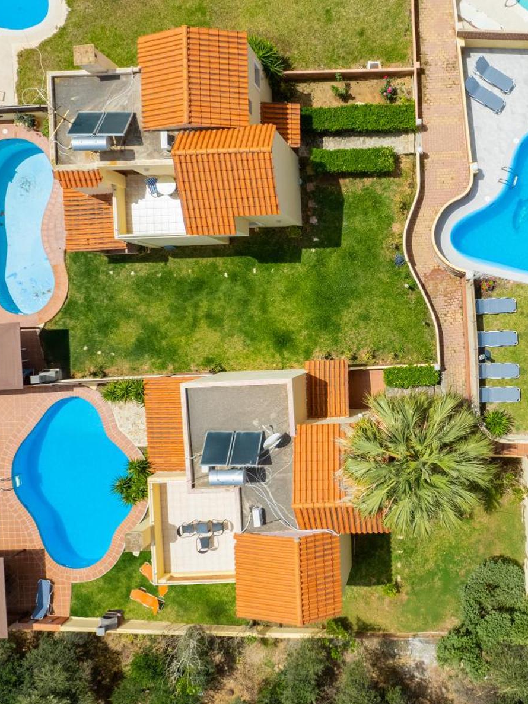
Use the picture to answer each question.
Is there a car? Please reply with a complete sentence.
No, the photo shows no car.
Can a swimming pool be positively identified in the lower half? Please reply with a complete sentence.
Yes, looking in the lower half, one can make out a swimming pool.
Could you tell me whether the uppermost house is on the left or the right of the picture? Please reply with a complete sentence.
You can find the uppermost house on the left side of the picture.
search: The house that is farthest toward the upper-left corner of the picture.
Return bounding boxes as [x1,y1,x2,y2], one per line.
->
[49,23,305,255]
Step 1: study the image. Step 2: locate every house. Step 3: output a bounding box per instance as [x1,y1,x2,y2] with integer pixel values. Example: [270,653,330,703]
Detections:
[117,359,390,630]
[49,23,305,255]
